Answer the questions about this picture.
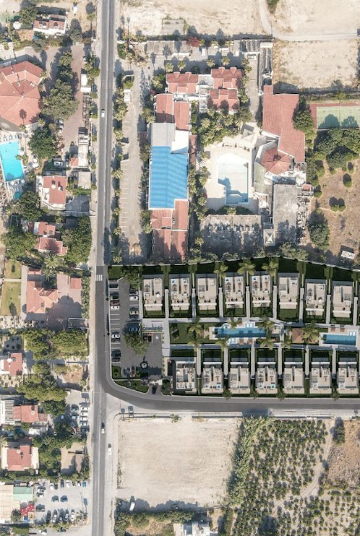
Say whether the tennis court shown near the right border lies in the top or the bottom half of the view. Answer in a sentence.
The top half of the photo is where the tennis court shown near the right border is.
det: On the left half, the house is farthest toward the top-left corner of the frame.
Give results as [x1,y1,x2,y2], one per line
[33,14,67,37]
